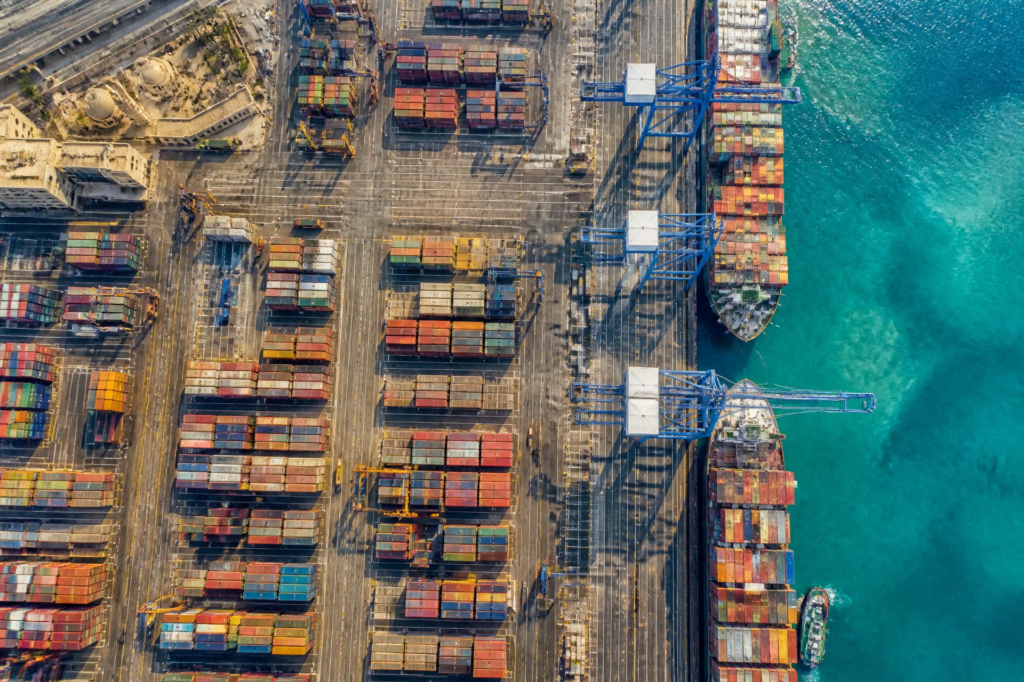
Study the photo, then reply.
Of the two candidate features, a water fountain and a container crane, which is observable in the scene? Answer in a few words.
container crane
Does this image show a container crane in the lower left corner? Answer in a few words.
Yes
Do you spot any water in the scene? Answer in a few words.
Yes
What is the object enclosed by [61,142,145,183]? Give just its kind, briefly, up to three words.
building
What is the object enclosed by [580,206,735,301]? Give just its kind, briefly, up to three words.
container crane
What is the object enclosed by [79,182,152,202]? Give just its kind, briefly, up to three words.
building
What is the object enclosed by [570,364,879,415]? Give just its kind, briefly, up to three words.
container crane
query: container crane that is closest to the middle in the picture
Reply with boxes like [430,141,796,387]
[489,261,550,308]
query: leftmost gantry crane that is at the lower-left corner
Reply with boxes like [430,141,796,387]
[135,576,206,626]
